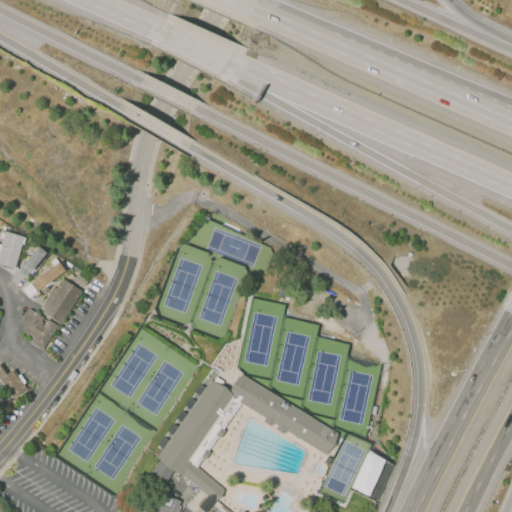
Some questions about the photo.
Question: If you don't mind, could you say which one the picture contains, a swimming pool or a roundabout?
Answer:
swimming pool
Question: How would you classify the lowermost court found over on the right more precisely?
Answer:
tennis court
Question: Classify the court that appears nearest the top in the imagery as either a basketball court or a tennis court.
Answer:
tennis court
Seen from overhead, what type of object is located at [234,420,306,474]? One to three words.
swimming pool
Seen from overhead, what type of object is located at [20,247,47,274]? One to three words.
house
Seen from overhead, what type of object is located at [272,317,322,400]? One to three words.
tennis court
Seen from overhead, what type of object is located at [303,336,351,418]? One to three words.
tennis court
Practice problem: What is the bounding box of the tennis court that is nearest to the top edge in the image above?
[191,216,273,268]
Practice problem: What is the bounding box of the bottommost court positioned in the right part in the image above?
[321,435,372,502]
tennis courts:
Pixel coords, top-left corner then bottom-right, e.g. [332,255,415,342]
[60,394,128,475]
[130,348,198,430]
[158,246,212,324]
[102,328,171,411]
[89,412,155,496]
[238,298,287,378]
[190,257,248,338]
[191,216,273,268]
[335,360,381,438]
[303,336,351,418]
[272,317,322,400]
[321,435,372,502]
